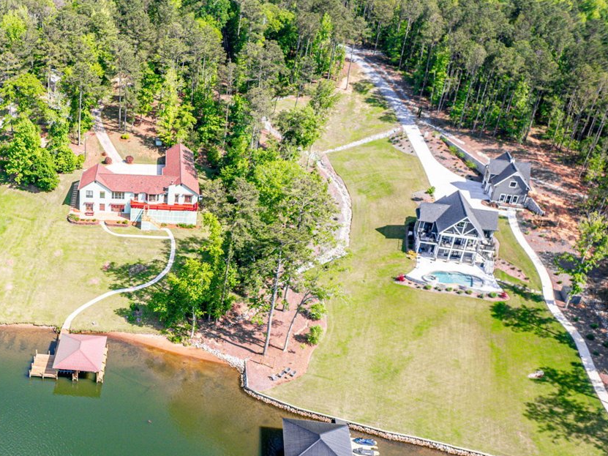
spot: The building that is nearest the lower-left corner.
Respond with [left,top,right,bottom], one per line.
[31,333,111,393]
